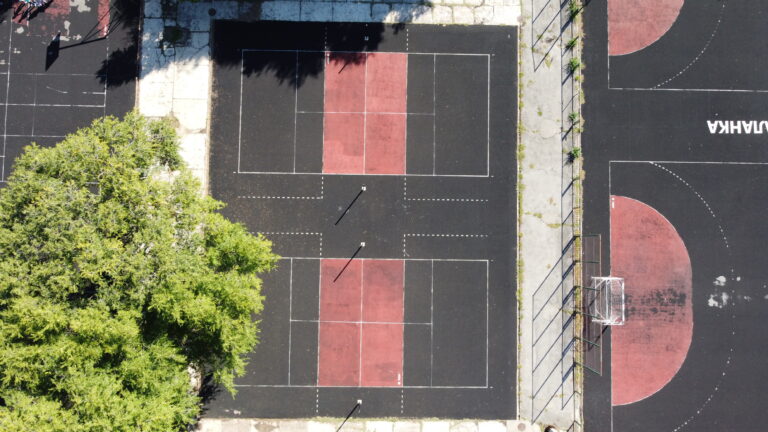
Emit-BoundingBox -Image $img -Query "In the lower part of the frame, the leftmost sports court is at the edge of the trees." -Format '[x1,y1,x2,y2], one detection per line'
[228,232,493,412]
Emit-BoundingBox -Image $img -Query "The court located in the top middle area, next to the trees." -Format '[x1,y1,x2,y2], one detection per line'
[234,28,493,200]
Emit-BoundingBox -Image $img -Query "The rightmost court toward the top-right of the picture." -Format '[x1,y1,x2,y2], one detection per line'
[608,0,768,92]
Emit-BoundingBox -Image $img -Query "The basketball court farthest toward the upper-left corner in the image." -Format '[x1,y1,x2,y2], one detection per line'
[0,0,110,106]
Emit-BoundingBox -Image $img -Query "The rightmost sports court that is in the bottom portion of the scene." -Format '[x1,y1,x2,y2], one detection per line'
[609,161,768,432]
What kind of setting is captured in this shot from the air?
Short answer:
sports ground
